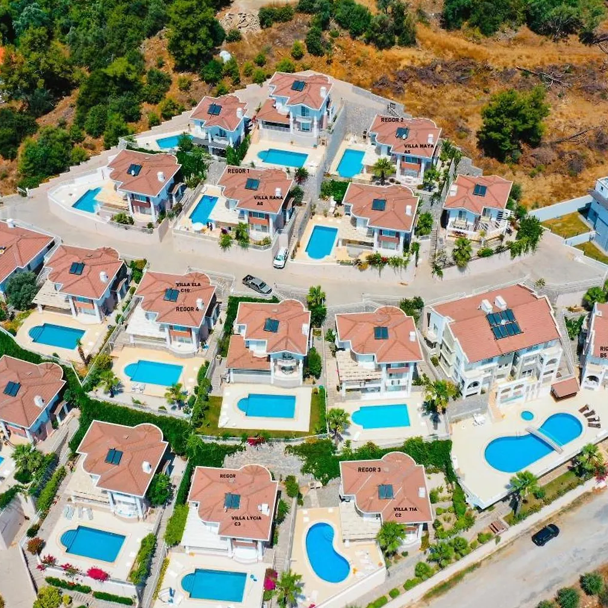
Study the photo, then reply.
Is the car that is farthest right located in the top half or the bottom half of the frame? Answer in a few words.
bottom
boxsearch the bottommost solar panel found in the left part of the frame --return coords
[220,487,241,504]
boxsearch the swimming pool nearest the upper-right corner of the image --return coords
[335,148,367,179]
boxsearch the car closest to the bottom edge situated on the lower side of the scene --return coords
[531,521,562,545]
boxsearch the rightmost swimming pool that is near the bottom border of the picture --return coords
[302,519,354,585]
